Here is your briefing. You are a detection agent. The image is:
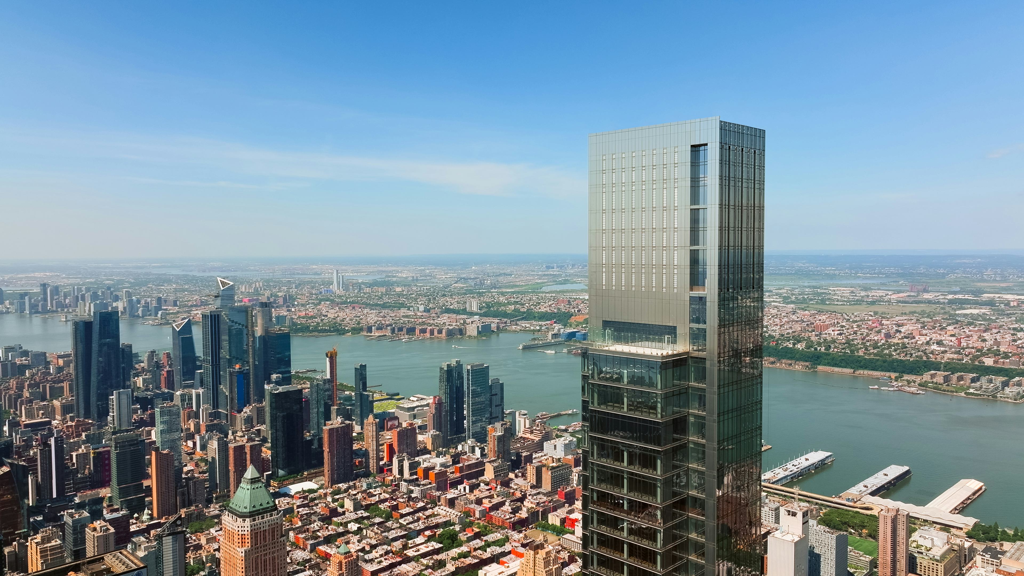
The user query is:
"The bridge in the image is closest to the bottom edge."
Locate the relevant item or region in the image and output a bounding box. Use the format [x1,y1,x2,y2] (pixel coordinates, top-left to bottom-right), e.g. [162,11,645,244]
[760,481,883,516]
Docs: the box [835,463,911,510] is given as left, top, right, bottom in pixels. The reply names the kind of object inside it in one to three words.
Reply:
pier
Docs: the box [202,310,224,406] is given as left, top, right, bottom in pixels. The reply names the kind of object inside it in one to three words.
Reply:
building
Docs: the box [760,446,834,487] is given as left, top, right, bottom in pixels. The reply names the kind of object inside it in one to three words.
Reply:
pier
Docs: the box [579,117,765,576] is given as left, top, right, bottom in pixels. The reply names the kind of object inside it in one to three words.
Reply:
building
